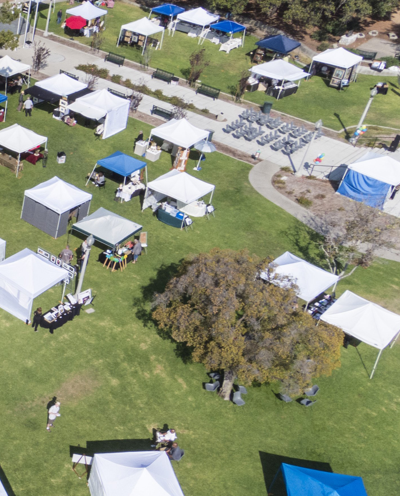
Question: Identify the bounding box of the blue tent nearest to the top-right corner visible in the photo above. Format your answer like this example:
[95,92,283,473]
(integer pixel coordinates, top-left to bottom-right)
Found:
[249,33,301,65]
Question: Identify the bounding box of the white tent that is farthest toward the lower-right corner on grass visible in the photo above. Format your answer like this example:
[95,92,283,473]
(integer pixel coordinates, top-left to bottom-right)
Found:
[306,289,400,376]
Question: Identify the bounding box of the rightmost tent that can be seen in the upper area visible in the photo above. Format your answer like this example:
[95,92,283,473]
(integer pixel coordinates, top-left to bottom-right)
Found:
[338,154,400,212]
